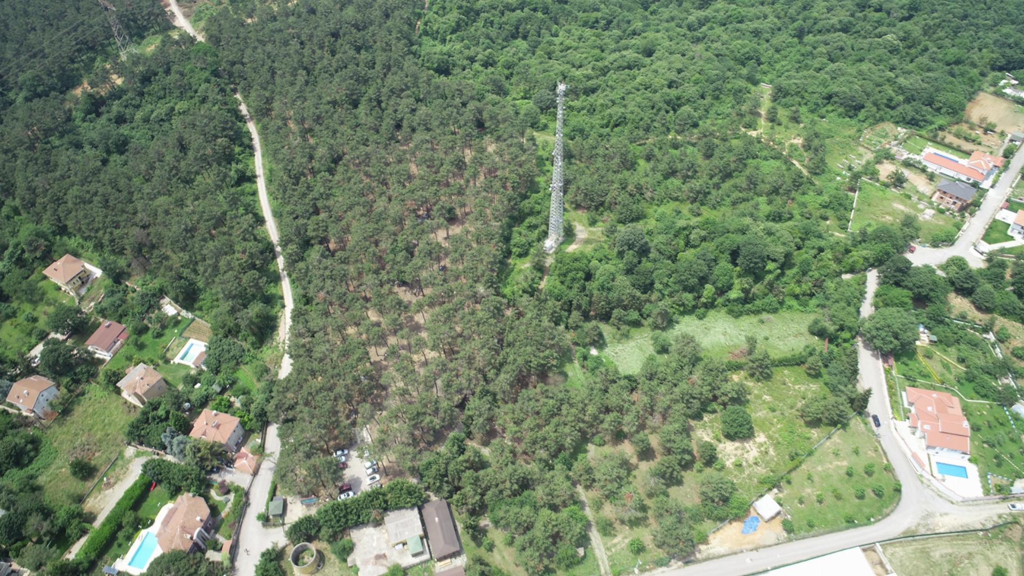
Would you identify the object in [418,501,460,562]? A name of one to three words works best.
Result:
building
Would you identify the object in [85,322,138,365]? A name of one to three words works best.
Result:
house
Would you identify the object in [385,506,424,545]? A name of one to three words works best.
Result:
shed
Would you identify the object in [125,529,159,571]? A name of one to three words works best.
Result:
swimming pool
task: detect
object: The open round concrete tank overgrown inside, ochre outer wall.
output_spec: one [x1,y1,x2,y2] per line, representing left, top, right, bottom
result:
[289,541,322,575]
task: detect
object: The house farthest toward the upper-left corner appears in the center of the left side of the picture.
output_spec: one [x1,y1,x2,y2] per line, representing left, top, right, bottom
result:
[42,256,93,294]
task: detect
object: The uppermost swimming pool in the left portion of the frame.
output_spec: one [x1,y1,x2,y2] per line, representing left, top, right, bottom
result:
[178,341,206,364]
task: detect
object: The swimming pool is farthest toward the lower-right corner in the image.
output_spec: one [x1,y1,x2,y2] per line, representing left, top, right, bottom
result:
[933,459,971,480]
